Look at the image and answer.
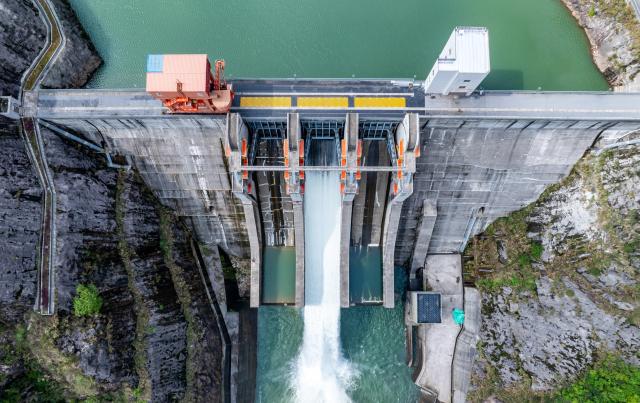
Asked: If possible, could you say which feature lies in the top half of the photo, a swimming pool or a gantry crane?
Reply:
gantry crane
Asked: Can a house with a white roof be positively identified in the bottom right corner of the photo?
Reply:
No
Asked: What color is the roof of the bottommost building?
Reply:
blue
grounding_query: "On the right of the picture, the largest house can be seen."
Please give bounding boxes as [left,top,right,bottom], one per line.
[424,25,491,94]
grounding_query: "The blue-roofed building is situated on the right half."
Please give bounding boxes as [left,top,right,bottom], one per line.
[399,291,443,323]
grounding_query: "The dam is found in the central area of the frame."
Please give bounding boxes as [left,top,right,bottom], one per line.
[32,78,640,306]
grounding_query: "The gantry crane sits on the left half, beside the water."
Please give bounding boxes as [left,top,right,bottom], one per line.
[143,54,234,118]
